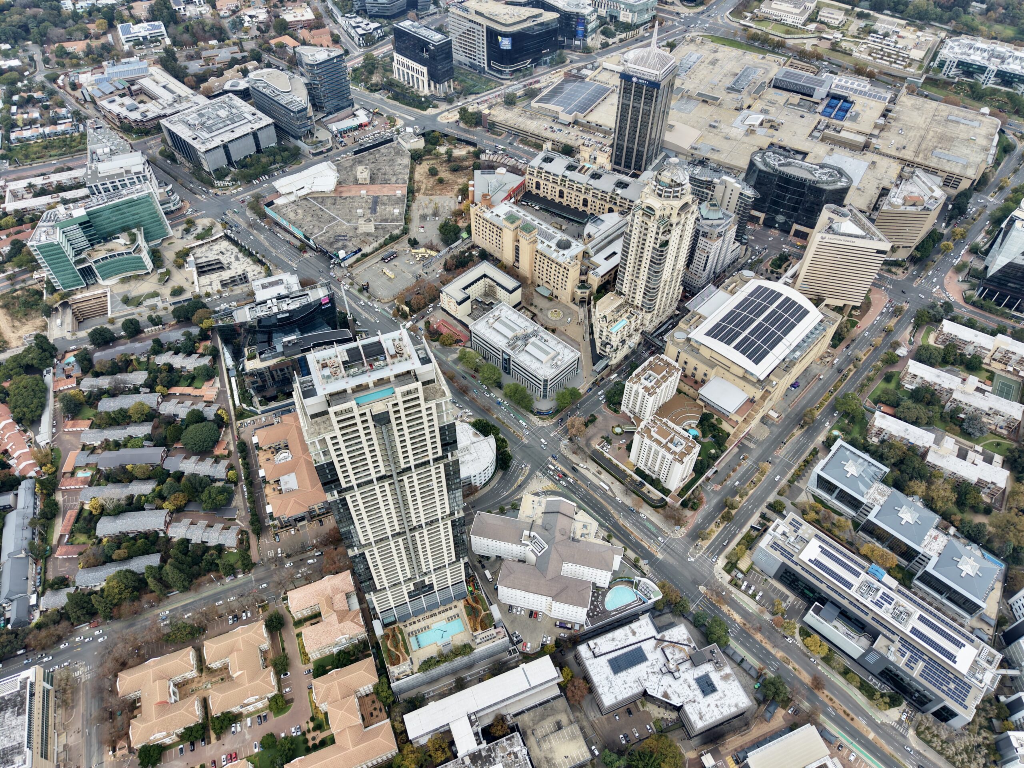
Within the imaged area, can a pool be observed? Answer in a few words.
Yes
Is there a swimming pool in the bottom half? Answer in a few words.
Yes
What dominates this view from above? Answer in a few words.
buildings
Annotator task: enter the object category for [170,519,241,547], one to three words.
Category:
house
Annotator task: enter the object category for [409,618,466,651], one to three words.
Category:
swimming pool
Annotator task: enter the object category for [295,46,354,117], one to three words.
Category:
building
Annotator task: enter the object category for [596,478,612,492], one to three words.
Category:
vehicle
